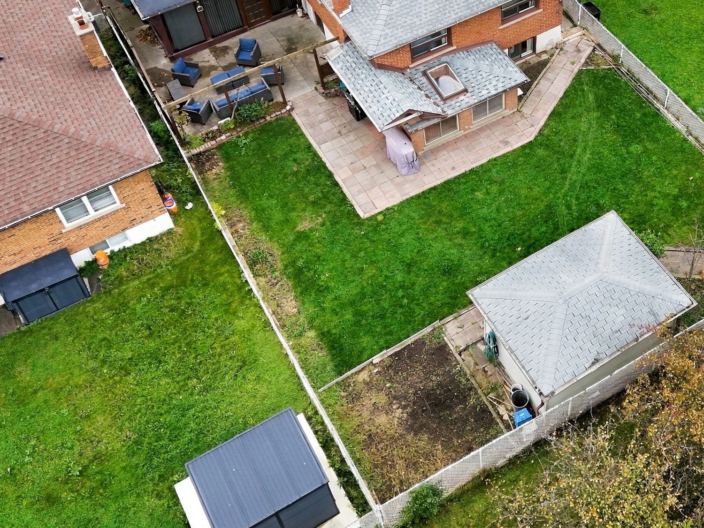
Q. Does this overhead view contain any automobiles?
No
